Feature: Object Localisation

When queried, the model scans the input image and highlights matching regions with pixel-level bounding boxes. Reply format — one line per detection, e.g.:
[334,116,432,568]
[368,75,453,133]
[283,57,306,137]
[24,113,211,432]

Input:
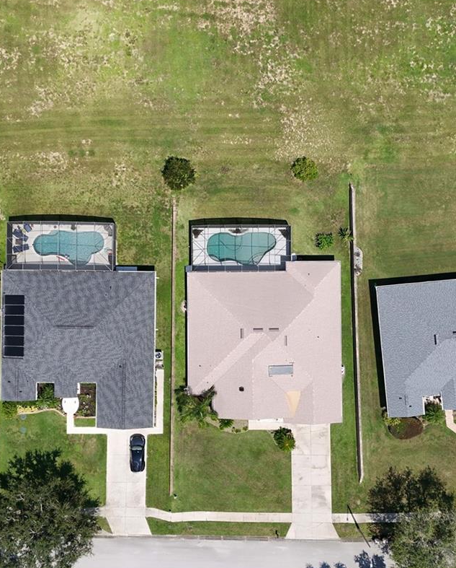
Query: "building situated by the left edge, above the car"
[1,269,158,432]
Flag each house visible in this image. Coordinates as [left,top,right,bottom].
[186,261,342,426]
[1,269,158,432]
[375,278,456,417]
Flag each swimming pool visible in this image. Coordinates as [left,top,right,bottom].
[205,230,278,268]
[30,228,107,269]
